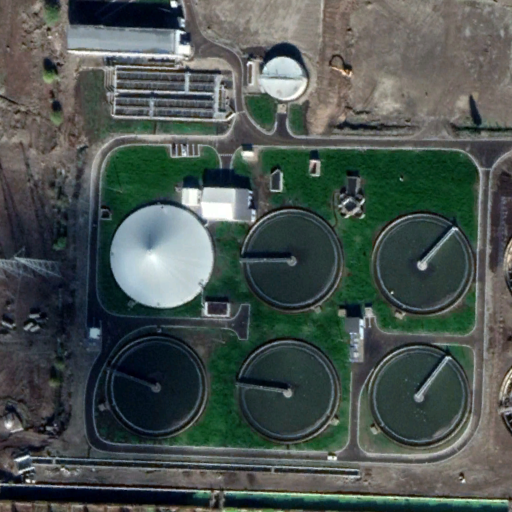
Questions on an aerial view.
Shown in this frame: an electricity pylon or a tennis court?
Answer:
electricity pylon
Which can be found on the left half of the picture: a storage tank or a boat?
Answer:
storage tank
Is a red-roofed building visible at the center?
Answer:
No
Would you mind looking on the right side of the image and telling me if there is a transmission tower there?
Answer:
No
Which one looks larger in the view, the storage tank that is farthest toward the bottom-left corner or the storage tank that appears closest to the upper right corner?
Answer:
the storage tank that is farthest toward the bottom-left corner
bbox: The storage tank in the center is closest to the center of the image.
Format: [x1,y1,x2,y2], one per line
[242,209,345,311]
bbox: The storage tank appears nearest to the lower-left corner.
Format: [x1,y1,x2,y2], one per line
[105,337,208,439]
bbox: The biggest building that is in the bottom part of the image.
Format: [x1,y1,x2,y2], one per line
[345,317,364,339]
